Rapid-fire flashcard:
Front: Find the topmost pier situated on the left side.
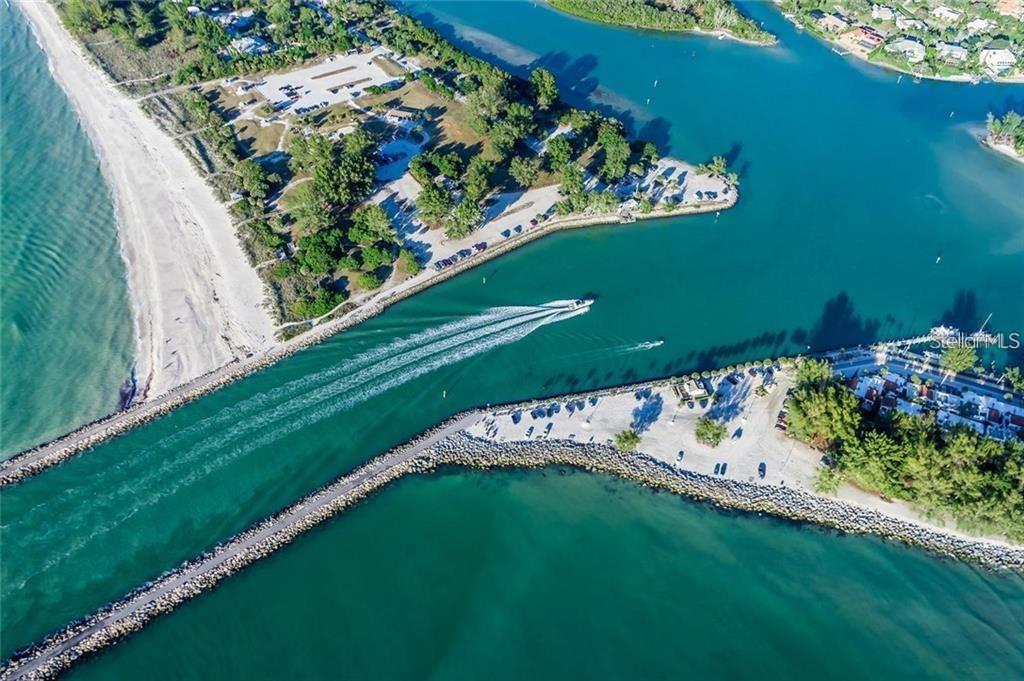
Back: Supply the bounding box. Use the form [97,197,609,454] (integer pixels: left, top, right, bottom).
[0,355,262,485]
